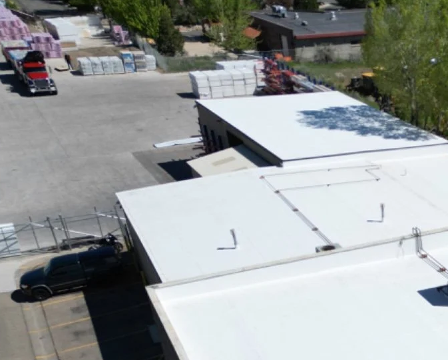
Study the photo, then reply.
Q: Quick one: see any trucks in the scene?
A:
Yes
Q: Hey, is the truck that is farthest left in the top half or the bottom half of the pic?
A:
top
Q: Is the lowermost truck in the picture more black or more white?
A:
black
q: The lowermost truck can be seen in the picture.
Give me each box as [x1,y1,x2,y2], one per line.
[25,248,142,303]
